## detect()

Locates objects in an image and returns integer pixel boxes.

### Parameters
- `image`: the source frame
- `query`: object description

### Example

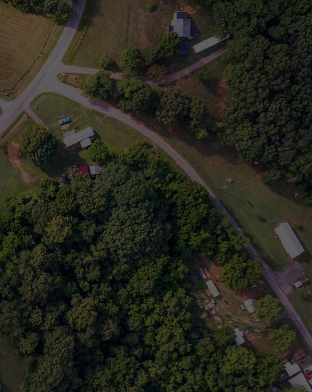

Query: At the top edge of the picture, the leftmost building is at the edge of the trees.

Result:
[166,11,195,55]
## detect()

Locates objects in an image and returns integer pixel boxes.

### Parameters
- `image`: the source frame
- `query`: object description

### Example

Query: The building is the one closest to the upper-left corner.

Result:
[63,127,94,148]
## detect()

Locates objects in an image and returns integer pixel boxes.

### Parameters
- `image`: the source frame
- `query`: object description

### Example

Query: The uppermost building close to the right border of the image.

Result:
[273,222,305,258]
